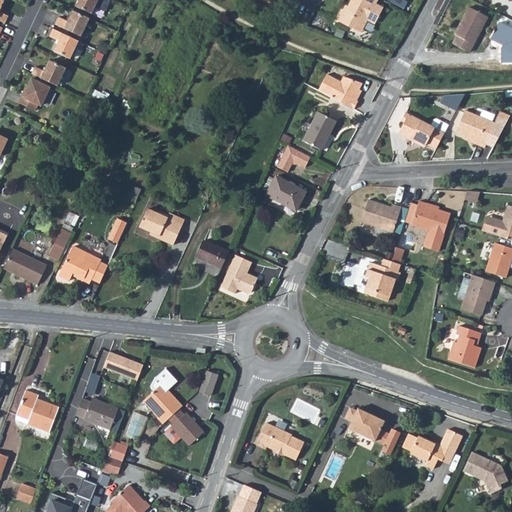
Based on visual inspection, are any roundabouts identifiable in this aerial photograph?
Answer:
Yes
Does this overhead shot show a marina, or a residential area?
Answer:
residential area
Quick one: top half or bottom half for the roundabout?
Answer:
bottom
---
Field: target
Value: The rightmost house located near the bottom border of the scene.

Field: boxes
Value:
[464,452,510,492]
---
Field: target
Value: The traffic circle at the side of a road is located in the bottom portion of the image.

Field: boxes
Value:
[235,306,308,379]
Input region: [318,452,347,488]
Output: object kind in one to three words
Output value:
swimming pool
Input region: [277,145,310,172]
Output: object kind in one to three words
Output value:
house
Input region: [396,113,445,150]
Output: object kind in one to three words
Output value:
house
